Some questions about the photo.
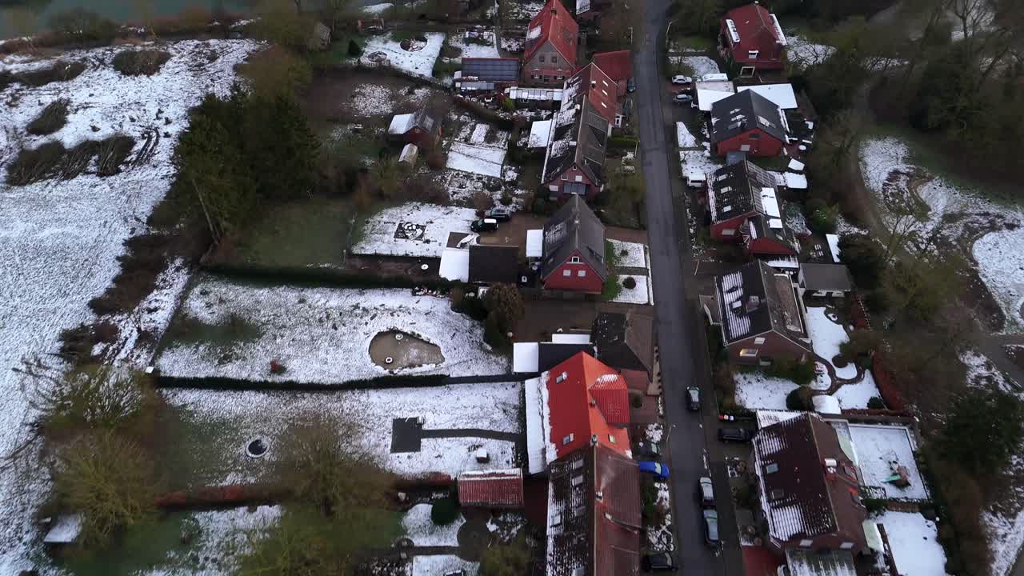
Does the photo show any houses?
Yes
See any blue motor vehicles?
Yes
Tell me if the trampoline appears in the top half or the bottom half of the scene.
bottom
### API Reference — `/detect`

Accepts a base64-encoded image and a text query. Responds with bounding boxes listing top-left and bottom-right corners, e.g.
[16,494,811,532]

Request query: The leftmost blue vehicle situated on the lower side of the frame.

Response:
[637,461,670,479]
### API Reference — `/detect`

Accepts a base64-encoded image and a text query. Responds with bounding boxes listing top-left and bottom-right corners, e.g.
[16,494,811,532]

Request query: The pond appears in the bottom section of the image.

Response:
[370,330,445,371]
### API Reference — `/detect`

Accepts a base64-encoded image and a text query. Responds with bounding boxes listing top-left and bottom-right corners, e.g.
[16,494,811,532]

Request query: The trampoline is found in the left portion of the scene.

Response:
[244,435,269,457]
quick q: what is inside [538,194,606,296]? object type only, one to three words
house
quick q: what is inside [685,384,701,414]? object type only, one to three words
car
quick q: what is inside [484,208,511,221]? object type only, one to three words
vehicle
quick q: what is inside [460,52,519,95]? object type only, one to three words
building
